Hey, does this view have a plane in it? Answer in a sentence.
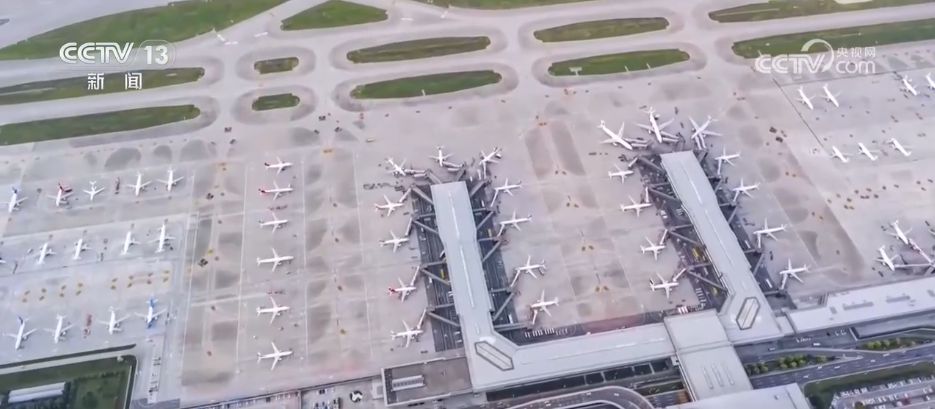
Yes, I can see a plane in this picture.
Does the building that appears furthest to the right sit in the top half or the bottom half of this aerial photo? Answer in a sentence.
The bottom half of the photo is where the building that appears furthest to the right is.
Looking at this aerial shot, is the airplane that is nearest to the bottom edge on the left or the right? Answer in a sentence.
It is on the left.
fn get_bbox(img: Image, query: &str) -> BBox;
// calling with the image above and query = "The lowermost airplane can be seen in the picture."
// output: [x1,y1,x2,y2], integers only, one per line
[258,339,292,369]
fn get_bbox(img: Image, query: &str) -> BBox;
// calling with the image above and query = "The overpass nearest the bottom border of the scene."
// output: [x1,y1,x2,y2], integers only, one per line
[502,387,655,409]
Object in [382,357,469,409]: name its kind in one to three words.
building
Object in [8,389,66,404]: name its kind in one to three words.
shed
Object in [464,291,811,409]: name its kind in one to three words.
building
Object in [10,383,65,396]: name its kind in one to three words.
shed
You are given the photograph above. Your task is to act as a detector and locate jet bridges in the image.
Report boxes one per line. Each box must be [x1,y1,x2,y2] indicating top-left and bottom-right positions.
[894,238,935,278]
[478,223,505,261]
[720,190,739,223]
[674,263,725,289]
[625,138,665,154]
[405,169,442,184]
[659,225,699,246]
[660,131,682,152]
[489,271,520,320]
[473,189,498,230]
[763,273,787,297]
[695,133,707,163]
[743,233,762,272]
[470,162,489,197]
[416,302,461,330]
[400,184,434,204]
[496,309,537,331]
[629,154,666,173]
[443,161,467,182]
[708,159,722,193]
[405,213,439,236]
[410,260,451,286]
[646,182,678,203]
